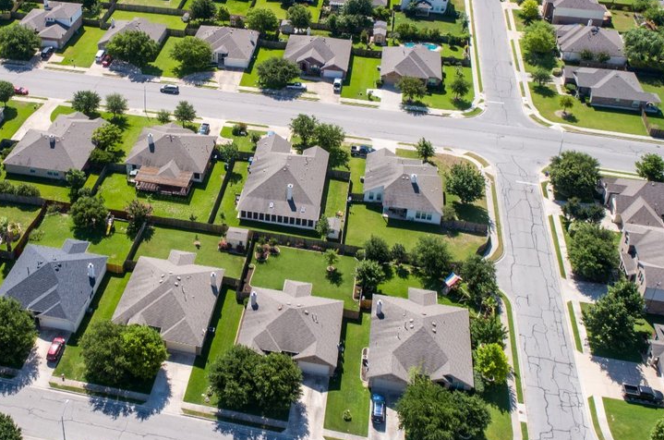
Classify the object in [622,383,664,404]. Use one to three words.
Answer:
vehicle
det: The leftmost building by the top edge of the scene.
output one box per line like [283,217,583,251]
[18,0,83,47]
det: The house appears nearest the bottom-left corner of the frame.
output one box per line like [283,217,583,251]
[0,238,107,335]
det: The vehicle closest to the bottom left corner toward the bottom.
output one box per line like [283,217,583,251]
[47,336,66,361]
